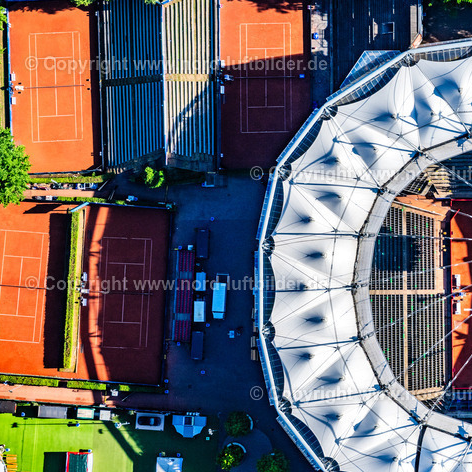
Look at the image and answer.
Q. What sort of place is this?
sports ground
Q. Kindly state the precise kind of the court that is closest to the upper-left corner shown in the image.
tennis court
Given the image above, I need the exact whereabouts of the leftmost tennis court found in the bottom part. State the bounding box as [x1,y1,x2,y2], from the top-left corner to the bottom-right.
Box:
[0,202,79,379]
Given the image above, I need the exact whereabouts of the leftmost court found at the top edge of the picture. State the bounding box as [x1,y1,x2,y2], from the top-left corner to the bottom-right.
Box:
[6,1,102,173]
